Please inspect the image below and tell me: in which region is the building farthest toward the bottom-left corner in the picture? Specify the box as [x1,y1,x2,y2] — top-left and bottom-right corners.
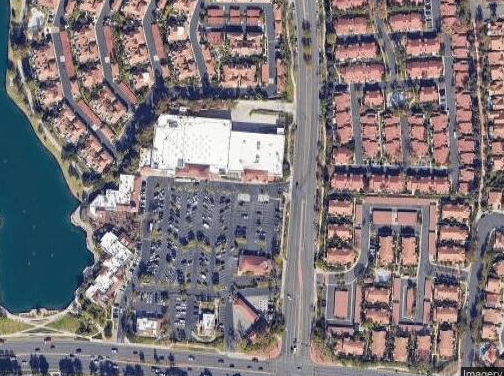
[86,274,111,297]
